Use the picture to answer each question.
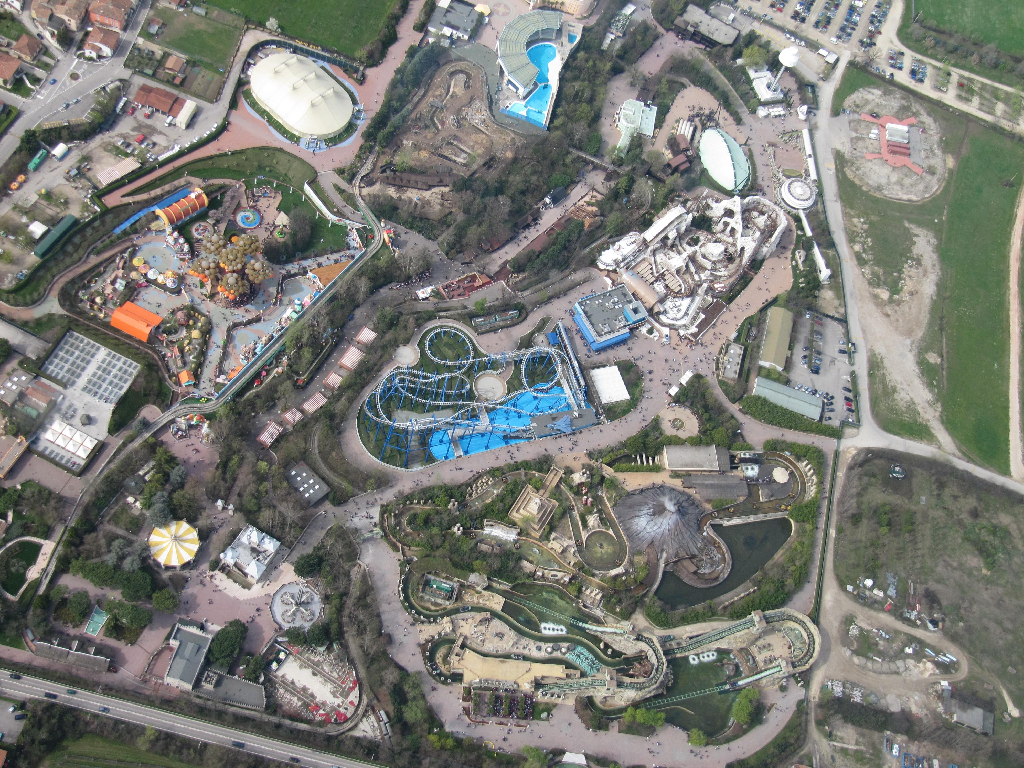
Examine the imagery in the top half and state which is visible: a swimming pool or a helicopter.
swimming pool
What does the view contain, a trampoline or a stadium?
stadium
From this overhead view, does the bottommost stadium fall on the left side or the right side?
right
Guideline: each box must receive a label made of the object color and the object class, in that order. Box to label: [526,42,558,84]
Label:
blue swimming pool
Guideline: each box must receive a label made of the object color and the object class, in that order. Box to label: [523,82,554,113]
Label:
blue swimming pool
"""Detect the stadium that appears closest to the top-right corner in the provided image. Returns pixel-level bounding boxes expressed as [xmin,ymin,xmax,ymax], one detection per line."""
[697,127,751,195]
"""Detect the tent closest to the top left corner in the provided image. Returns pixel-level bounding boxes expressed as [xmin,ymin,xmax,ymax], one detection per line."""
[241,53,359,145]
